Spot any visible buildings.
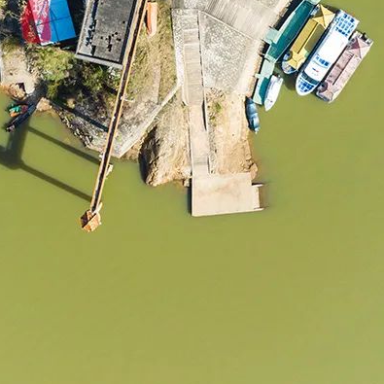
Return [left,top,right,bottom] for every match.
[22,0,78,48]
[79,210,103,234]
[77,0,140,70]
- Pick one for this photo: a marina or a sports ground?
marina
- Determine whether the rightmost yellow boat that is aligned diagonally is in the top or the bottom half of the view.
top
